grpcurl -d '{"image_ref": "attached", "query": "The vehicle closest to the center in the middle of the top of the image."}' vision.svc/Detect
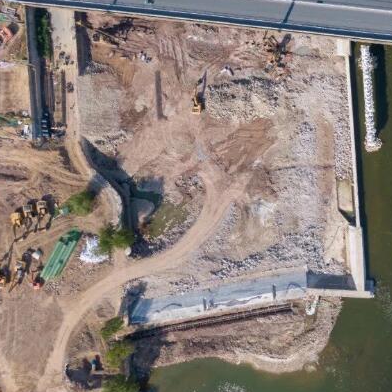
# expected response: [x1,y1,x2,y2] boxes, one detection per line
[191,81,204,119]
